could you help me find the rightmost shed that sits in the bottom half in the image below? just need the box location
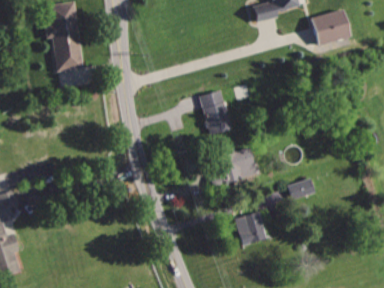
[288,179,315,200]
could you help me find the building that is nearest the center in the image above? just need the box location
[198,86,230,134]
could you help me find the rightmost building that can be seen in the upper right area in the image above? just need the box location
[312,10,352,45]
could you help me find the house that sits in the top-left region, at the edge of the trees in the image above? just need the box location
[45,0,84,72]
